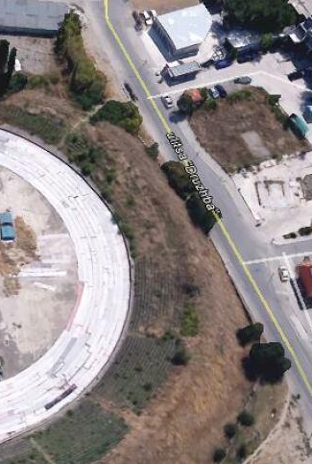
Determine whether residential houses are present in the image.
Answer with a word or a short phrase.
Yes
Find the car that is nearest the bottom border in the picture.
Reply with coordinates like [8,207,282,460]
[278,265,291,280]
